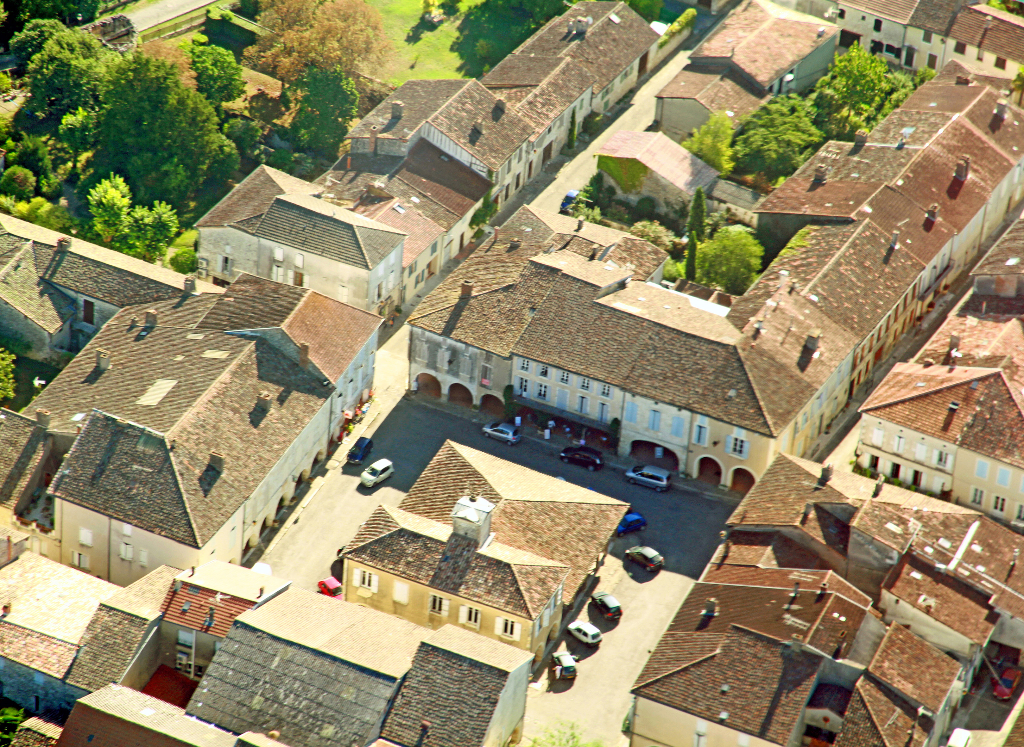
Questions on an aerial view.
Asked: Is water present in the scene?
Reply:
No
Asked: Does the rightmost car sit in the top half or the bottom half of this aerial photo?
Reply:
bottom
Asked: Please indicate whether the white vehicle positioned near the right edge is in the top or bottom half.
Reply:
bottom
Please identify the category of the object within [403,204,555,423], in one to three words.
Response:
house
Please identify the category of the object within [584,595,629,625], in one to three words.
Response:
car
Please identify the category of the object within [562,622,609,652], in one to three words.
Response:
car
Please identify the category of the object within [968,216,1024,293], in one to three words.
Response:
house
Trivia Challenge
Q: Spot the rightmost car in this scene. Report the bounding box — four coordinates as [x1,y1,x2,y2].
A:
[992,663,1024,701]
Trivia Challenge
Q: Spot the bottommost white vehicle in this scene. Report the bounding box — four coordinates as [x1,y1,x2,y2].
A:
[946,722,974,747]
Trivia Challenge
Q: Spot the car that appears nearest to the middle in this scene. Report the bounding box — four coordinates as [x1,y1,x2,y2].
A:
[479,422,524,448]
